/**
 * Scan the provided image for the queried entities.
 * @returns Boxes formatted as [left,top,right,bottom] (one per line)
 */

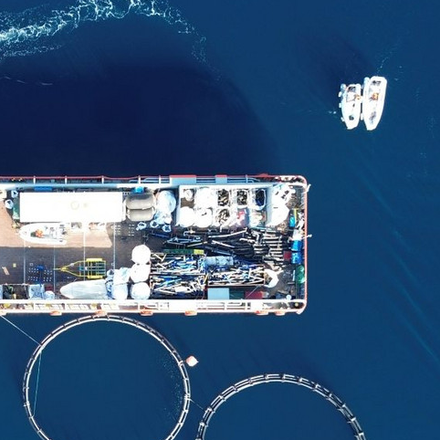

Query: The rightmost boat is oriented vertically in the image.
[362,72,389,131]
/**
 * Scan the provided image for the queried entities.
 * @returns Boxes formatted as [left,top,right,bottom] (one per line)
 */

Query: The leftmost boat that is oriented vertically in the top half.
[338,80,364,130]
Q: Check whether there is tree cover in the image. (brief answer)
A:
No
